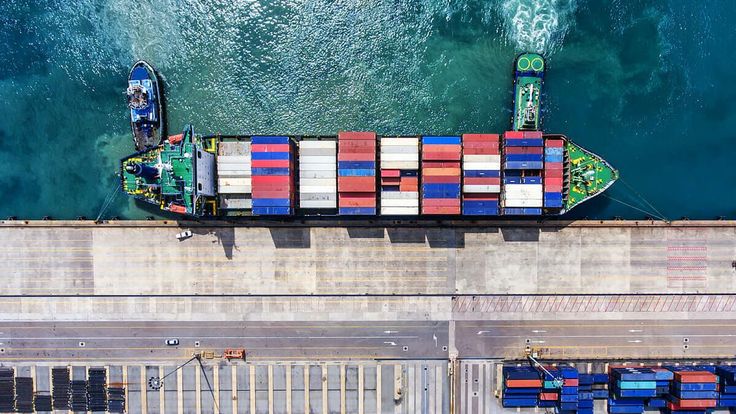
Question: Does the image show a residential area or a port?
port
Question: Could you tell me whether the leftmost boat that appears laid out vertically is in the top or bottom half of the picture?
top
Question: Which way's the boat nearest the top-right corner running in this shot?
from top to bottom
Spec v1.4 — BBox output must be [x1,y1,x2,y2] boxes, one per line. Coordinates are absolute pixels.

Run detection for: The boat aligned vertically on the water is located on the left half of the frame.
[126,60,166,150]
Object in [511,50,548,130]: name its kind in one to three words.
boat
